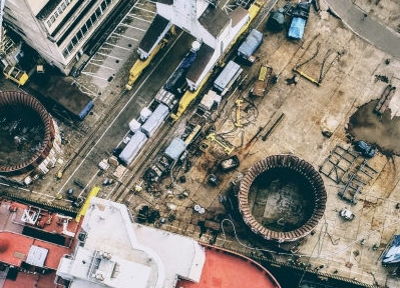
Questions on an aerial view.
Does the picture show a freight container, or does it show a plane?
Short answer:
freight container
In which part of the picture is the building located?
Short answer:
top left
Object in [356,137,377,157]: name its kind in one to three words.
vehicle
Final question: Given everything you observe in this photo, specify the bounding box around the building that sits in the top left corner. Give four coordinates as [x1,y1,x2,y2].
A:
[0,0,126,75]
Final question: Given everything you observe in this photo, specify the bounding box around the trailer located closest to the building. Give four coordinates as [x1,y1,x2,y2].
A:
[44,74,99,122]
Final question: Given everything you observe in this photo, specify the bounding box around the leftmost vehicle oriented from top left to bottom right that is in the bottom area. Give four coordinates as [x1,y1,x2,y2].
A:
[338,207,356,221]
